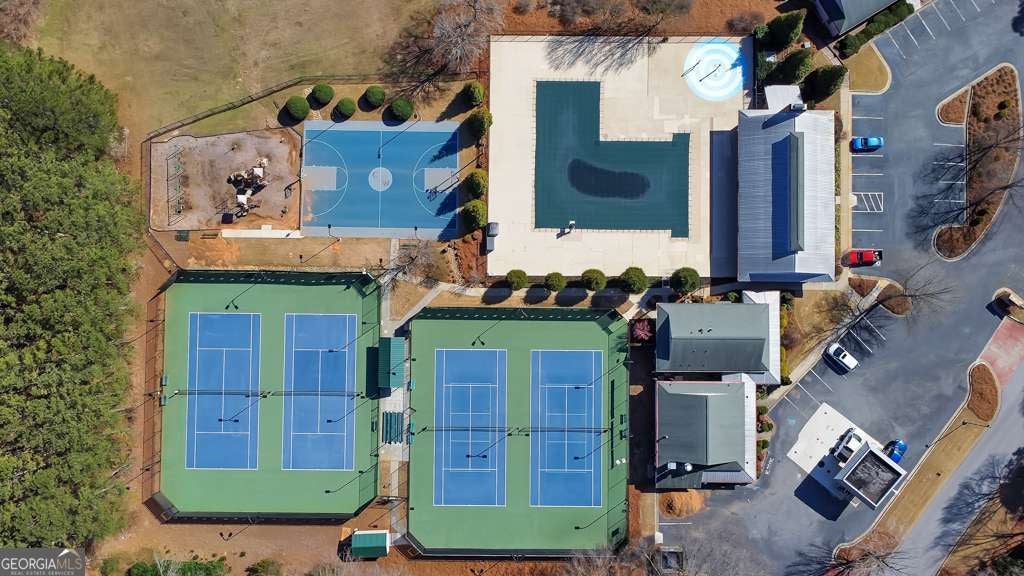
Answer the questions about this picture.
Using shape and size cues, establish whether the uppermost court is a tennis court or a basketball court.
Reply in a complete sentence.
The uppermost court in the image is a basketball court.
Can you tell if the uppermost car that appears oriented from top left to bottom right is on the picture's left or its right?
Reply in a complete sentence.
The uppermost car that appears oriented from top left to bottom right is on the right side of the image.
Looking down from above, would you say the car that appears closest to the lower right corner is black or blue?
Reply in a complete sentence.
The car that appears closest to the lower right corner looks blue in the image.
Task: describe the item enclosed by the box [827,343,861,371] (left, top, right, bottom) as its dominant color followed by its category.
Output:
white car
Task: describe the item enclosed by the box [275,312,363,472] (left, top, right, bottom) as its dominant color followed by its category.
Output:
blue tennis court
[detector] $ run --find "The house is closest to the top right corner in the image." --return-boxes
[806,0,900,40]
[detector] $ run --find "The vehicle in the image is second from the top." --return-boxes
[848,250,885,265]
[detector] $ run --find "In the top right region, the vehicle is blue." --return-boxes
[851,134,885,149]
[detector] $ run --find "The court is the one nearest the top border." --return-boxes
[302,121,460,239]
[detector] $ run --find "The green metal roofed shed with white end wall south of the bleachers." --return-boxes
[351,528,391,557]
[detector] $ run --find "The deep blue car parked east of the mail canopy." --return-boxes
[885,437,908,464]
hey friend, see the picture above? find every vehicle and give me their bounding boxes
[827,343,861,371]
[848,250,885,265]
[851,134,885,149]
[885,437,908,464]
[838,431,865,463]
